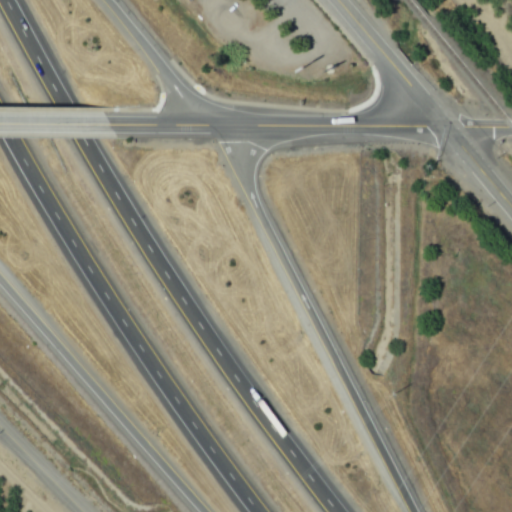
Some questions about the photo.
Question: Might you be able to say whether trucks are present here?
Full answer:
Yes, a truck can be made out from above.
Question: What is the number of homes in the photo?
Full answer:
Not a single home can be seen.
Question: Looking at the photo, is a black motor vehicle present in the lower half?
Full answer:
No, there's no black motor vehicle to be seen in the lower half.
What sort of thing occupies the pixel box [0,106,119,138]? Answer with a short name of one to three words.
overpass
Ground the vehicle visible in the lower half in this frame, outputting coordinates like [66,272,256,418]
[252,388,288,438]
